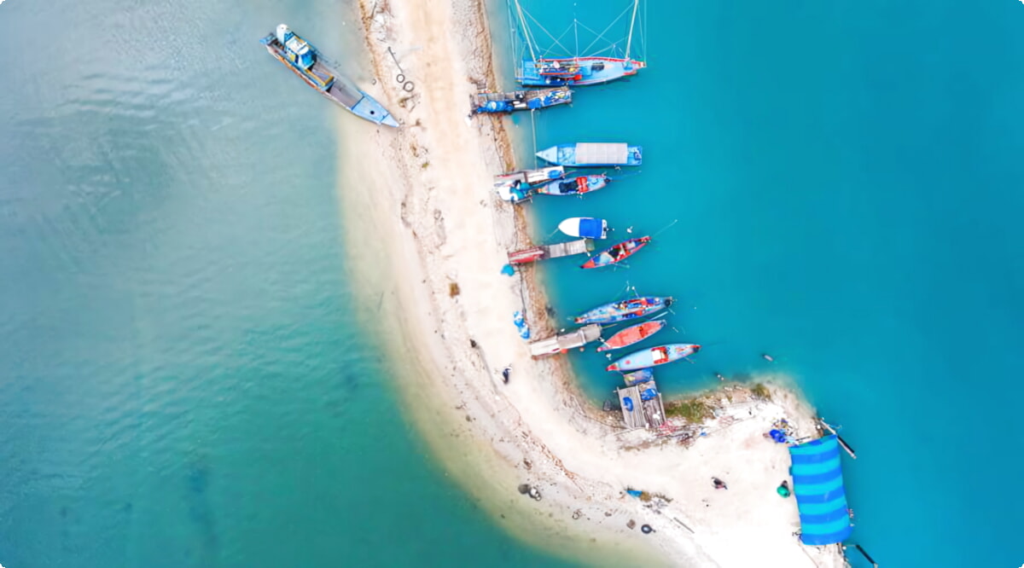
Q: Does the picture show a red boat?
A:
Yes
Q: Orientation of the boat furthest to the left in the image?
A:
diagonally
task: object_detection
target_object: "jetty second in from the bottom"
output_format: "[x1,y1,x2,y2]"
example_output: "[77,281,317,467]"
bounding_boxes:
[510,239,588,263]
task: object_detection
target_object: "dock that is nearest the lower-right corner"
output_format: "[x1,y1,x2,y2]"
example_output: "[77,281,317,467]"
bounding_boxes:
[530,323,602,355]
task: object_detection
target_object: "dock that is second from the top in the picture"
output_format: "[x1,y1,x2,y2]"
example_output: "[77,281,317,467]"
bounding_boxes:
[494,165,565,185]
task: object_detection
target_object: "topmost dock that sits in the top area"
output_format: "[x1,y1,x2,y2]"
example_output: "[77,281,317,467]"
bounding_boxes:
[473,85,575,114]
